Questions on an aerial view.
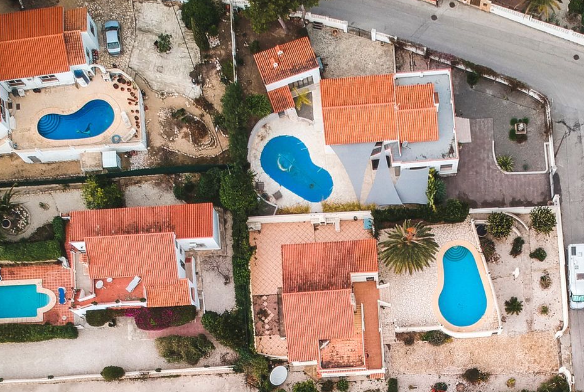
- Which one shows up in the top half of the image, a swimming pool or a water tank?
swimming pool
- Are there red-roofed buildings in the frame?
Yes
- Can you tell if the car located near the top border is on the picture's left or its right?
left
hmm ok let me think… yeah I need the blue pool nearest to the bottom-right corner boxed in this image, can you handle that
[433,239,493,332]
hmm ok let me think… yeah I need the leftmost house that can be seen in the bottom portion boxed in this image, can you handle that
[68,202,218,315]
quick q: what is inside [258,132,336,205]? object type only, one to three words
swimming pool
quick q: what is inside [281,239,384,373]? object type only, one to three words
house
